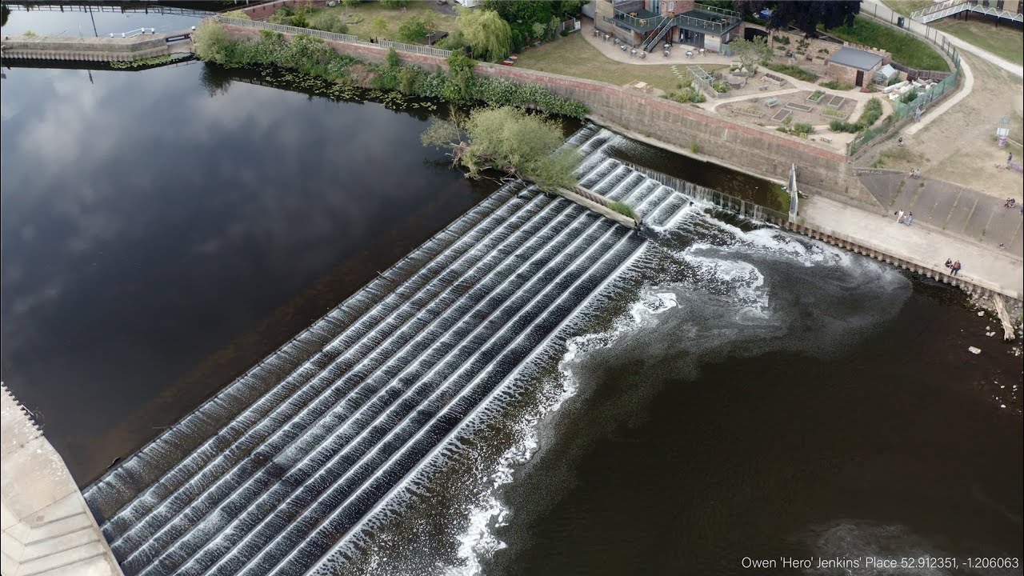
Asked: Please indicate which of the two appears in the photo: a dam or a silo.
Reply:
dam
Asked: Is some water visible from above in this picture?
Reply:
Yes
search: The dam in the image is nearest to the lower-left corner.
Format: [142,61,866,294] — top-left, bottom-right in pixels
[80,180,644,576]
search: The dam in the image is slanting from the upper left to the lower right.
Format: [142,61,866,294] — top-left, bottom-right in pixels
[552,123,689,229]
